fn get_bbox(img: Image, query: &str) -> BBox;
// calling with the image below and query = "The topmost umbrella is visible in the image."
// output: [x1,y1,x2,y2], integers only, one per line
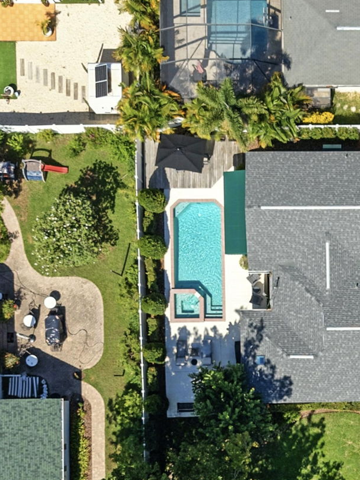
[156,134,213,172]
